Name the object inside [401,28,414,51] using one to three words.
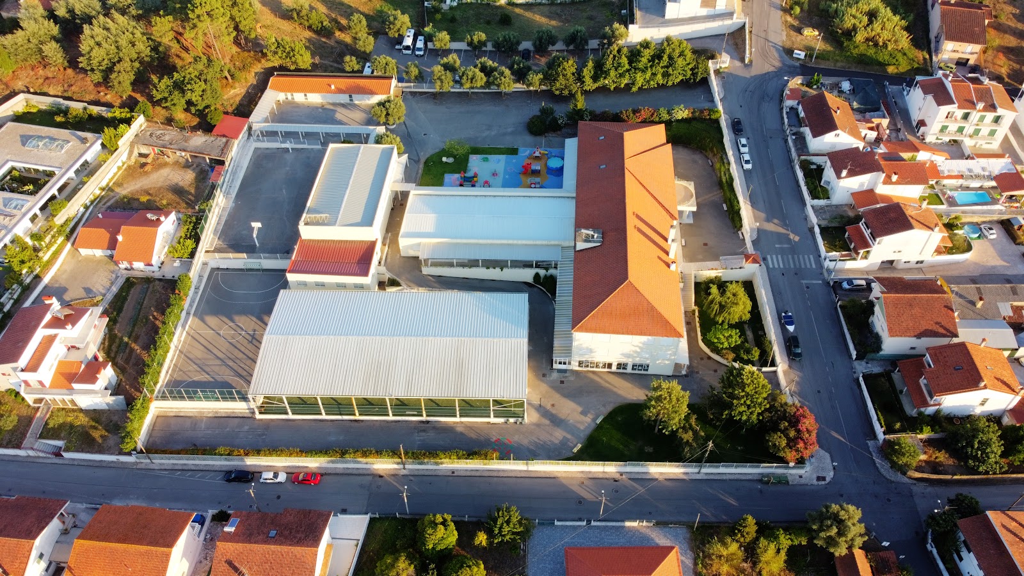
vehicle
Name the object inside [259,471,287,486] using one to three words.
car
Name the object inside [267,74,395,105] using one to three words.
building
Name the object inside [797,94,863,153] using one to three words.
house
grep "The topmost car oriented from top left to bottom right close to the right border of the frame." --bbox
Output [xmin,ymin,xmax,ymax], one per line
[978,223,1000,240]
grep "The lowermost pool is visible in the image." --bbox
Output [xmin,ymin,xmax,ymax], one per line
[962,225,988,243]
